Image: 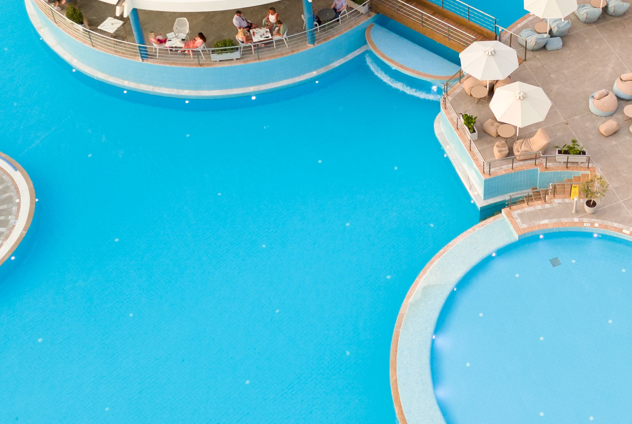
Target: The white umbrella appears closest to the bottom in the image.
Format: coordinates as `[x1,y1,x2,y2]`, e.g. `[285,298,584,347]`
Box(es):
[491,83,552,139]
